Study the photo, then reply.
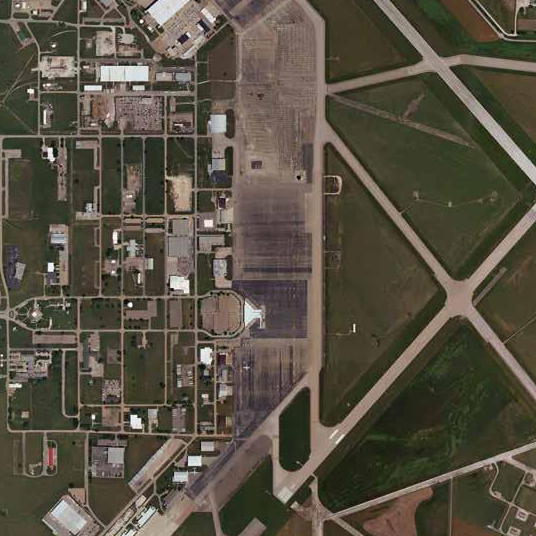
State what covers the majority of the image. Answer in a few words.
grass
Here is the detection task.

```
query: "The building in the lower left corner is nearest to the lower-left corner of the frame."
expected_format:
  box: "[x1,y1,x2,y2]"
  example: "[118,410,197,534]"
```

[51,500,86,533]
